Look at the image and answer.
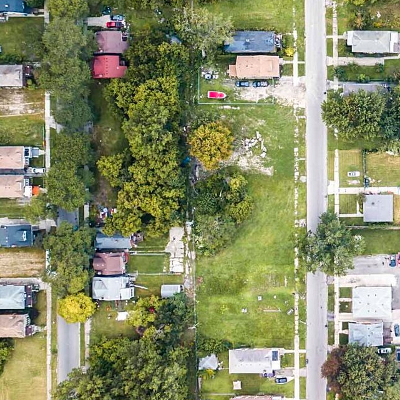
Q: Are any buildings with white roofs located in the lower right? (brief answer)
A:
Yes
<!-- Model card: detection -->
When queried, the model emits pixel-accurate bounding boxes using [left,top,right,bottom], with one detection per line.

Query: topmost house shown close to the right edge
[347,30,398,53]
